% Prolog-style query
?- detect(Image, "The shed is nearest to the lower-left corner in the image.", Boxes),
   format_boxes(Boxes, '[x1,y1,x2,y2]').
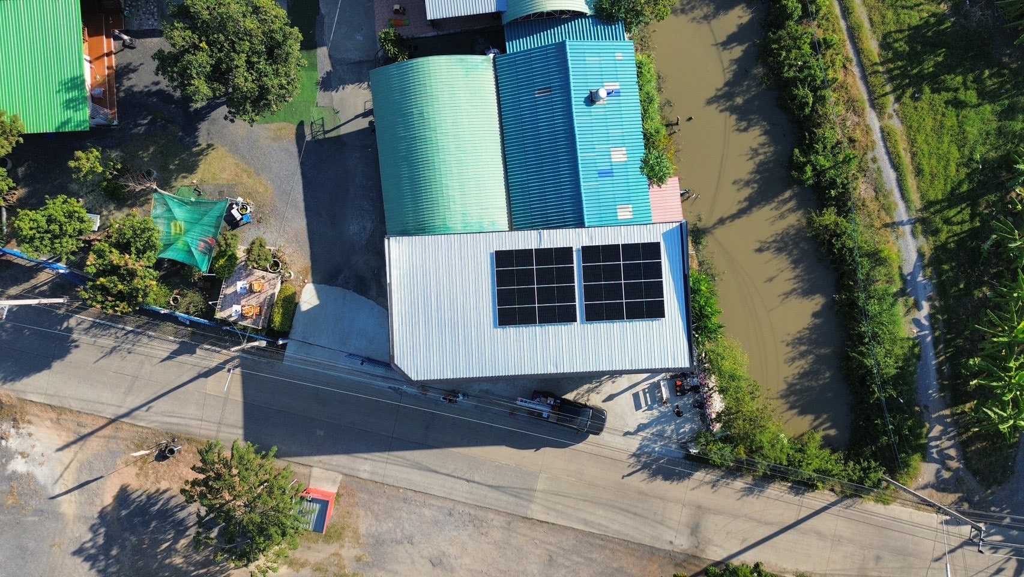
[294,487,337,532]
